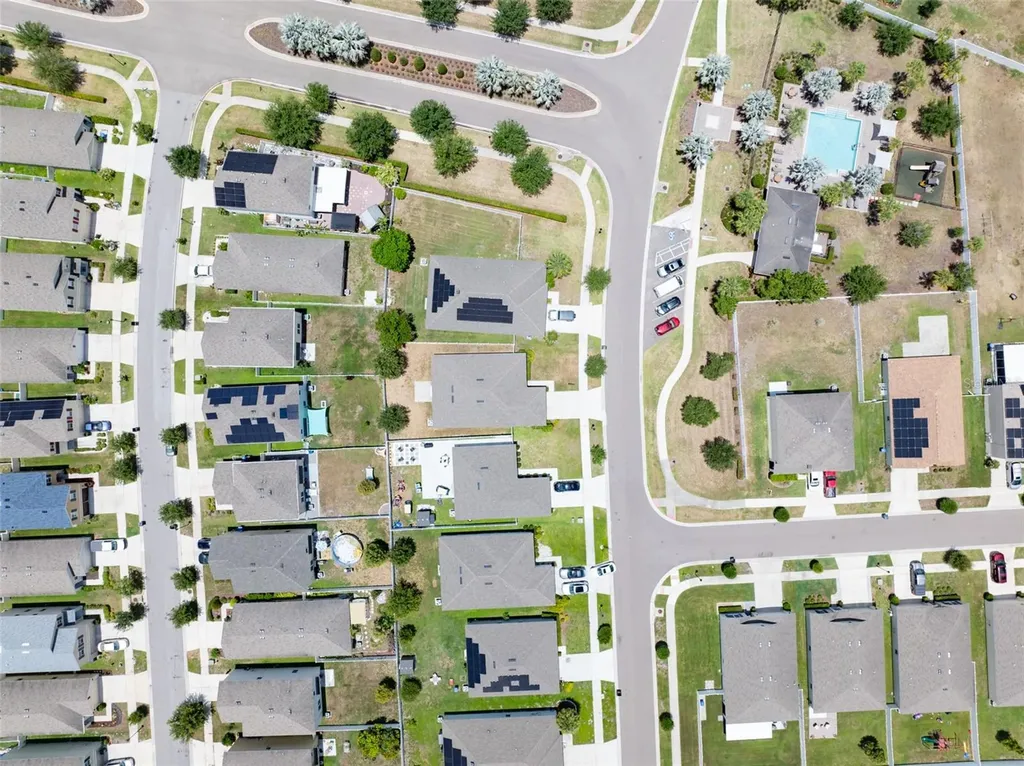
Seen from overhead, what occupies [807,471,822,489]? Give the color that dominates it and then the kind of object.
white car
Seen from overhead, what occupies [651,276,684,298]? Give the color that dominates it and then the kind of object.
white vehicle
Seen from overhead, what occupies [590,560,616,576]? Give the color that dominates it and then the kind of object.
white car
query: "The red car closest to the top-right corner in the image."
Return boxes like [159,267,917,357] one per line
[653,317,681,336]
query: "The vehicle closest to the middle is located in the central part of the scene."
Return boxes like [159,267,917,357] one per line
[549,308,575,322]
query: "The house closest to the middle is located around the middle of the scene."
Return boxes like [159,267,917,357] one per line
[432,353,548,428]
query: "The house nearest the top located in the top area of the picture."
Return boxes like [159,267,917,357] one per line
[0,106,100,174]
